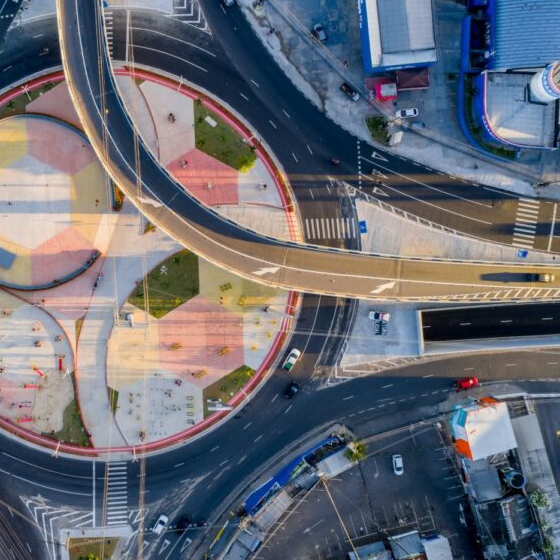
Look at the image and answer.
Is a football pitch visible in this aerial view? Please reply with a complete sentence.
No, there appears to be no football pitch in this shot.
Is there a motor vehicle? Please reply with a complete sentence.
Yes, a motor vehicle is visible in the scene.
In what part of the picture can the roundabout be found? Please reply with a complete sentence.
You can find the roundabout in the left area of the picture.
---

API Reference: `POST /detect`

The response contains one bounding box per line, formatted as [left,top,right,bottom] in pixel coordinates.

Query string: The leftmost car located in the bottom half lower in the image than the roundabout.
[153,514,167,533]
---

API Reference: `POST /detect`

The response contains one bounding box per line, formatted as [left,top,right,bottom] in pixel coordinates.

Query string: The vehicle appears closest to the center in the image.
[283,347,301,369]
